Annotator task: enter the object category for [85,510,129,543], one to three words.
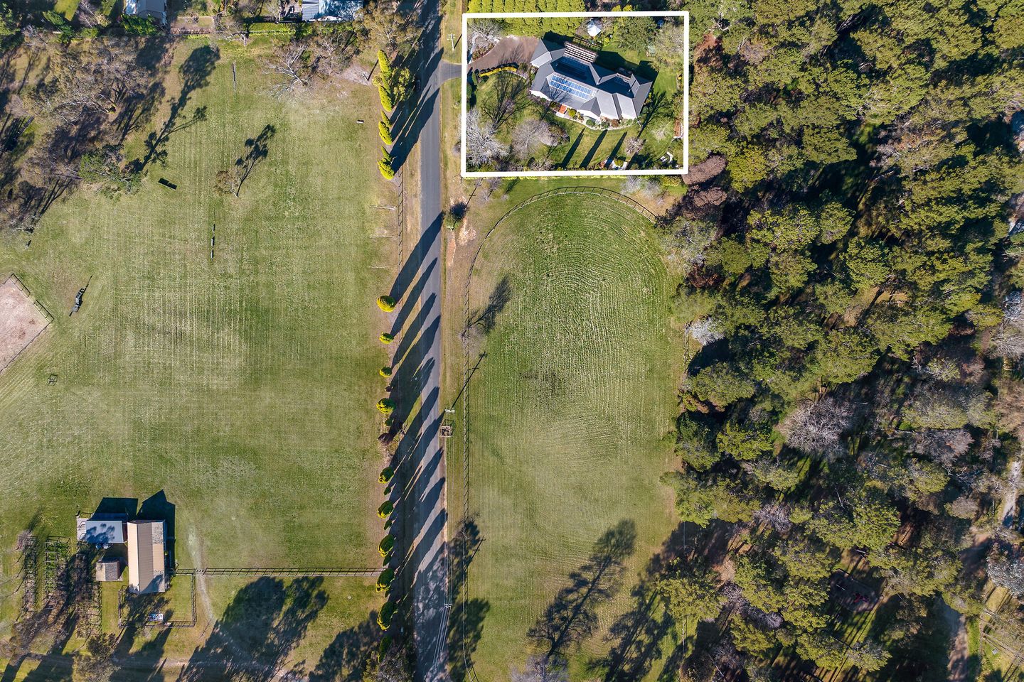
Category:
shed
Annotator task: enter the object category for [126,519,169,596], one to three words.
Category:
barn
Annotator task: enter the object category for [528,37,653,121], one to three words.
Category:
house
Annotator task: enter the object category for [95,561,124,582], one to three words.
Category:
shed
